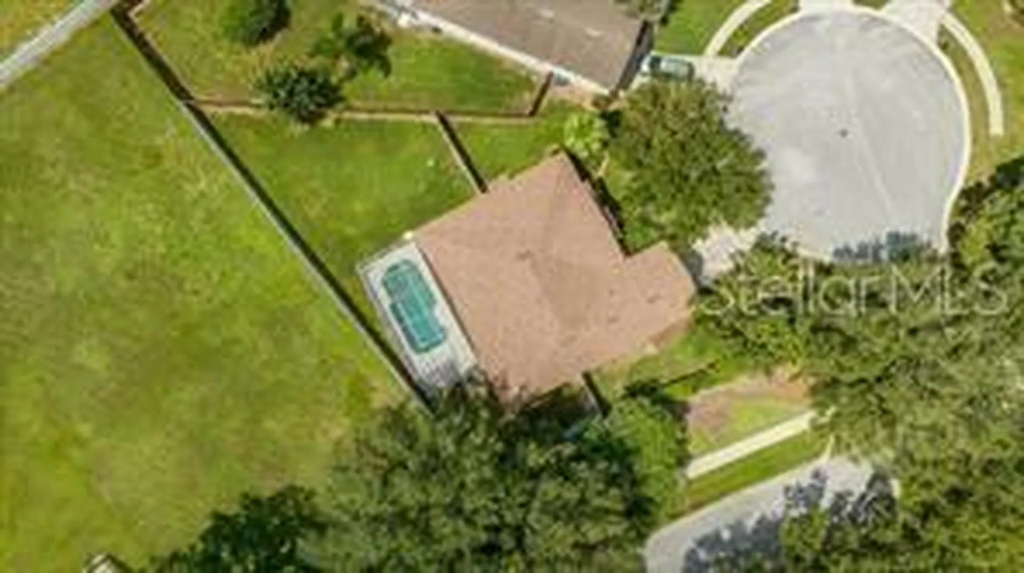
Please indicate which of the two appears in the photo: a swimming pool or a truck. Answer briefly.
swimming pool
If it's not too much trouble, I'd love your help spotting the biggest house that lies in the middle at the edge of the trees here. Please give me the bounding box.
[412,151,698,406]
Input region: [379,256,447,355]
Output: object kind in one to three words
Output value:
swimming pool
